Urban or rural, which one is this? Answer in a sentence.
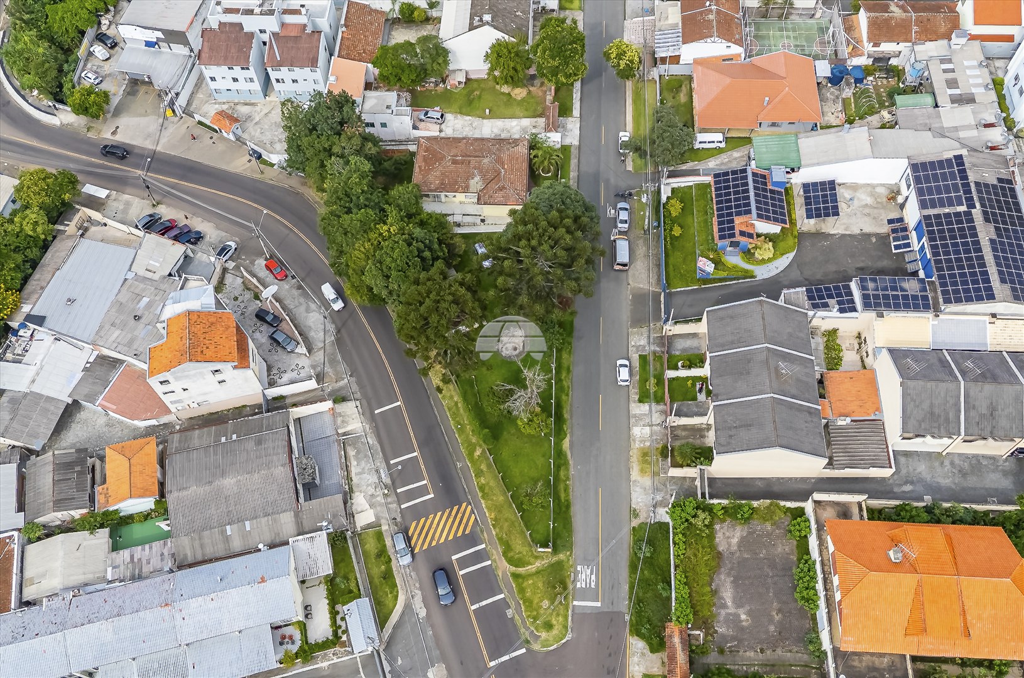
The land in this view is best described as urban.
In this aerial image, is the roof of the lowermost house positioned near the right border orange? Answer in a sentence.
Yes, the roof of the lowermost house positioned near the right border is indeed orange.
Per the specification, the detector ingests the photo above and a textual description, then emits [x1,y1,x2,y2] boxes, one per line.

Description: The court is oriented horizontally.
[741,19,838,60]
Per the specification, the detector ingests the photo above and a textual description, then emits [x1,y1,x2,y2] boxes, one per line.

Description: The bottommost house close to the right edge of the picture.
[826,520,1024,663]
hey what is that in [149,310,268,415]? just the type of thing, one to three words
house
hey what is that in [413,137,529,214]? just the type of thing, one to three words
house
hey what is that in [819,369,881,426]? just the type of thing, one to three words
building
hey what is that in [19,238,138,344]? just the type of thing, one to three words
building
